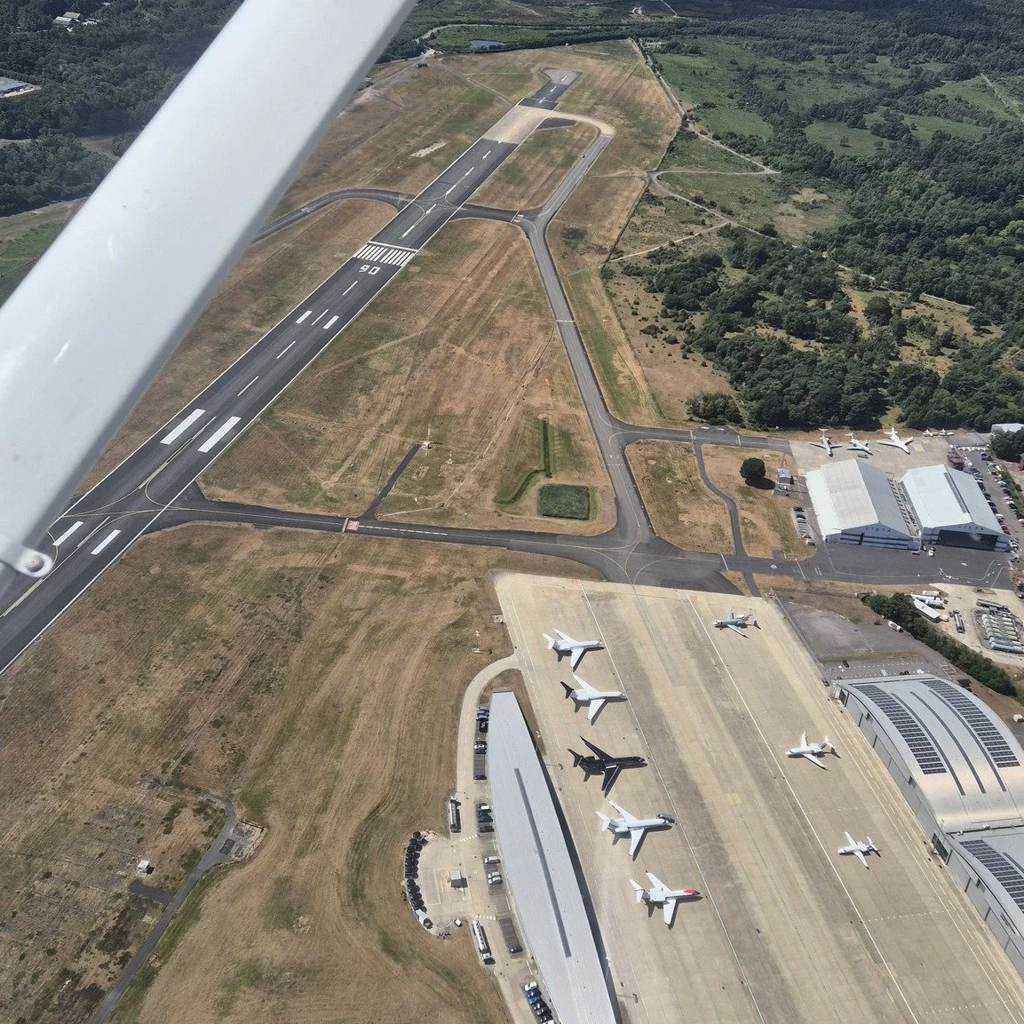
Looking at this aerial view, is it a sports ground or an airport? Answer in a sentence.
This image shows an airport.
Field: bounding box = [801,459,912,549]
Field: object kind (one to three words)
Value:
hangar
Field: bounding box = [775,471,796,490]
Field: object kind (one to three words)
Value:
building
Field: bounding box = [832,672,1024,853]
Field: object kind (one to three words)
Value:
hangar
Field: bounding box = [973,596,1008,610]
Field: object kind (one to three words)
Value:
vehicle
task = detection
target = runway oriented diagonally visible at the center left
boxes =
[0,138,525,679]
